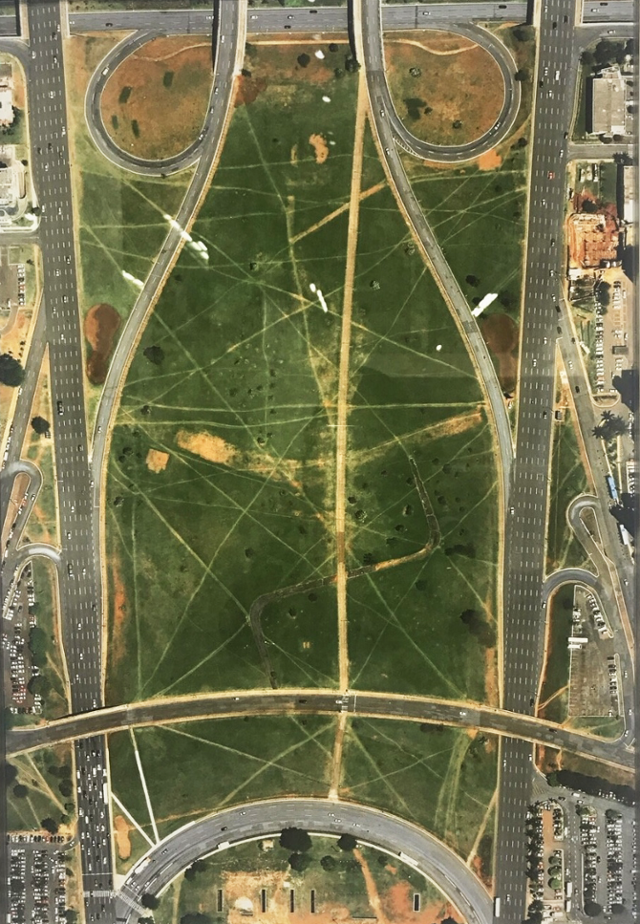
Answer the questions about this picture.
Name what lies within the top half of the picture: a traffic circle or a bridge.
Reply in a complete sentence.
The feature located within the top half of the picture is a bridge.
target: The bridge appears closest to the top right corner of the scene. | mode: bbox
[534,0,582,26]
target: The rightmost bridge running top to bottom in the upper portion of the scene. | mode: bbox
[354,0,385,72]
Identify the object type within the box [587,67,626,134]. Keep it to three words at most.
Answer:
building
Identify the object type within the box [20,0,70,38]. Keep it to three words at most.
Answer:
bridge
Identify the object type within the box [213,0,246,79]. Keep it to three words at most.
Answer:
bridge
